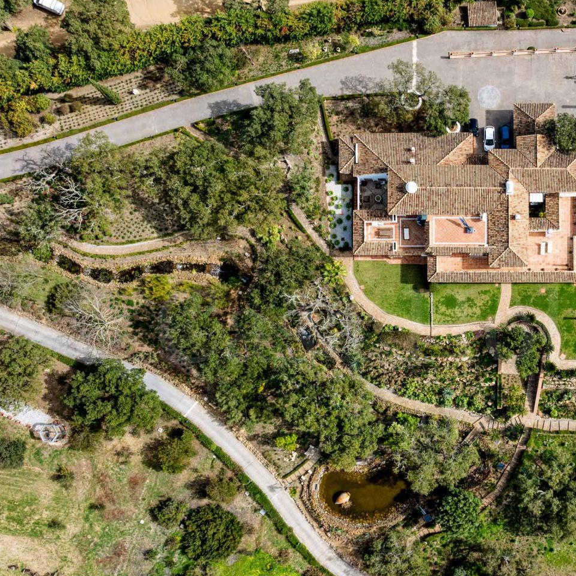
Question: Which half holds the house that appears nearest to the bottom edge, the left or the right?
right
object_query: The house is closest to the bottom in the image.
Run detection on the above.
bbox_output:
[338,103,576,283]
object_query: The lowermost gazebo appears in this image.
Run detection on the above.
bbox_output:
[36,420,64,444]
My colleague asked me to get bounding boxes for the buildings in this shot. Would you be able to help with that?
[338,103,576,283]
[468,0,496,30]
